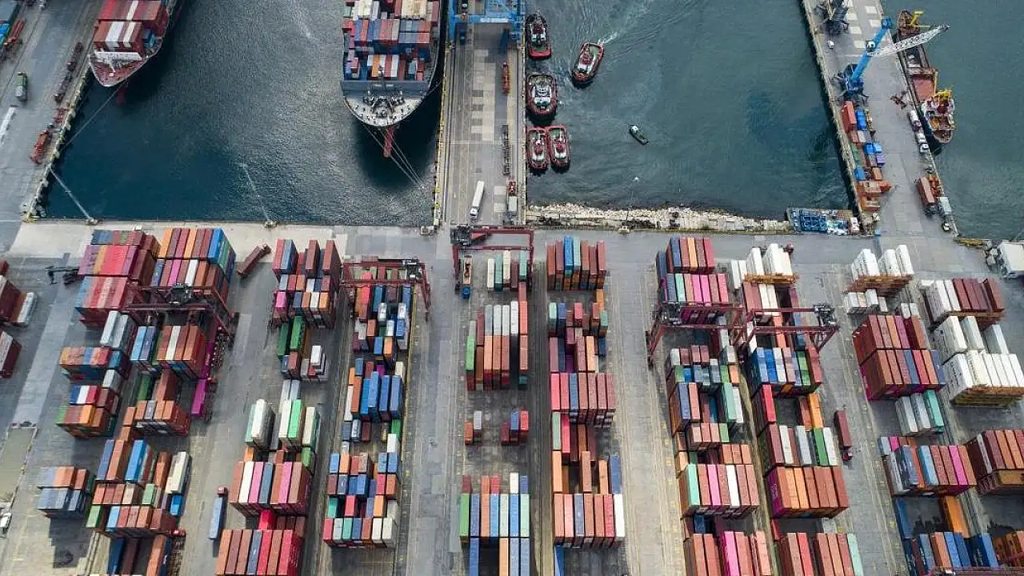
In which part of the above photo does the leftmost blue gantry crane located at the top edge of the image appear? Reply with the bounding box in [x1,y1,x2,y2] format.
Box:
[445,0,520,47]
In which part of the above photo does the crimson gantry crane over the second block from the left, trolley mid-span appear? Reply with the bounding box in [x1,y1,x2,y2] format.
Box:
[118,281,236,349]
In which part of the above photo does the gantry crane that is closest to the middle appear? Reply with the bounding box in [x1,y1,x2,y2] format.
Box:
[449,228,536,294]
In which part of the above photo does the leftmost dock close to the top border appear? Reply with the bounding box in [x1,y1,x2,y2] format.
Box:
[0,0,88,222]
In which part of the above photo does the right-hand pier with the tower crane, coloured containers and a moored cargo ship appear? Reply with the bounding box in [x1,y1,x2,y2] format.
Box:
[800,0,956,226]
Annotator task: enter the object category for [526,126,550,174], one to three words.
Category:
boat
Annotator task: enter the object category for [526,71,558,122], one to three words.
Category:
boat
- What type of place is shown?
port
